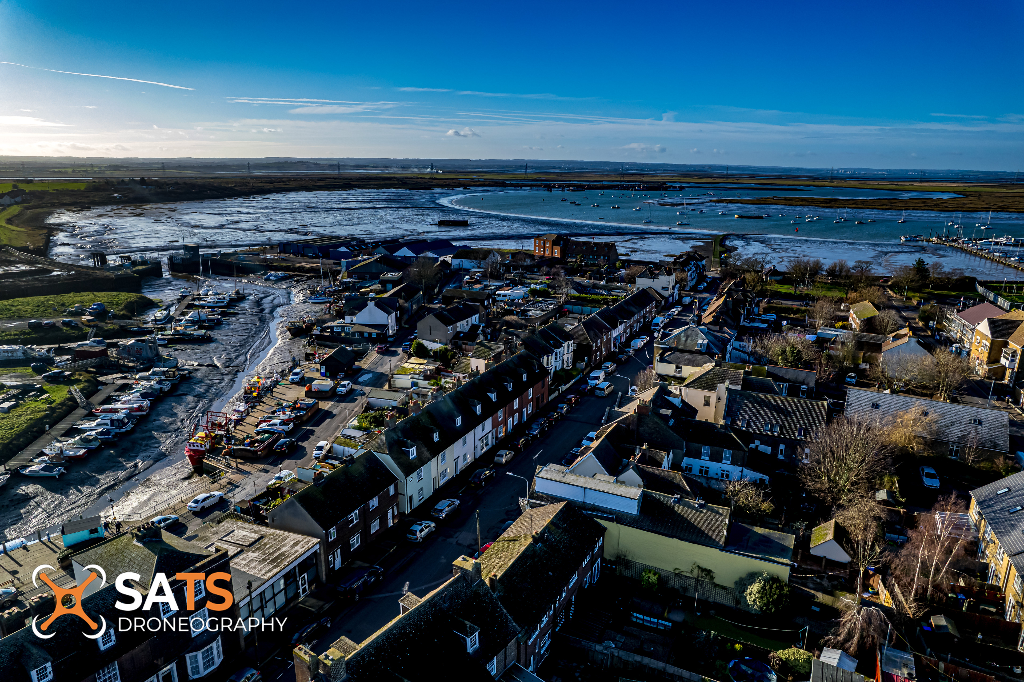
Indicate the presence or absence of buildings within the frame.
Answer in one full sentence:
Yes, there's a building here.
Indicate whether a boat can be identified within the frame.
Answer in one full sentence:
Yes, the picture does show a boat.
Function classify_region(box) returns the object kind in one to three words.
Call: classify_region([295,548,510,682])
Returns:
house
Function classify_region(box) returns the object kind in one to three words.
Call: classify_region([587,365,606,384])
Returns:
vehicle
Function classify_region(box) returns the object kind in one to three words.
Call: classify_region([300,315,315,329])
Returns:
boat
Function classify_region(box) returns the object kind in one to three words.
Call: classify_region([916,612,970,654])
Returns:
shed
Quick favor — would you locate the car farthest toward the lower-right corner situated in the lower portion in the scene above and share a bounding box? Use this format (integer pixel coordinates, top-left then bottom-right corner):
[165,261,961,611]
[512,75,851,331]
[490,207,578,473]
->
[918,466,942,488]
